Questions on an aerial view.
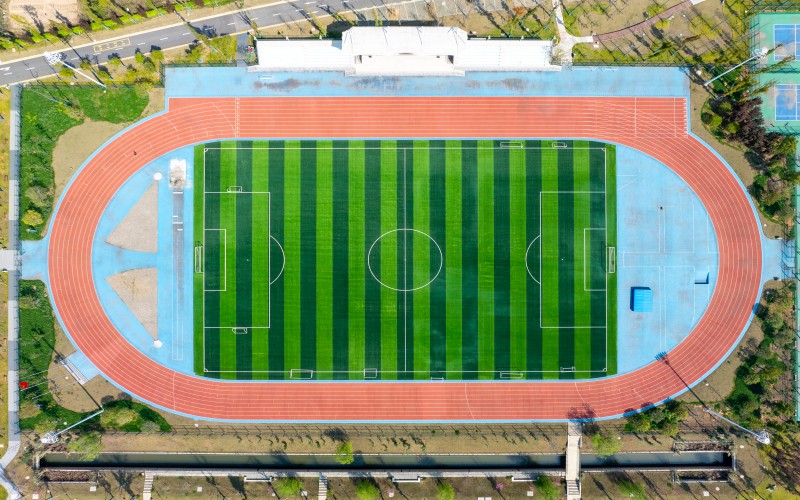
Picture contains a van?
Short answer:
No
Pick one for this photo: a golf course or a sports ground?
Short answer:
sports ground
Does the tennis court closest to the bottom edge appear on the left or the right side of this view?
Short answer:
right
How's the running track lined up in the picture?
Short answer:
horizontally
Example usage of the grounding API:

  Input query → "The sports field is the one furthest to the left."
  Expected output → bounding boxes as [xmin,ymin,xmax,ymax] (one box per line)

[93,139,400,380]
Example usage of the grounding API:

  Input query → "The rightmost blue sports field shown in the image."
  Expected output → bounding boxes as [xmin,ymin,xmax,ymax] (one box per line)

[400,139,717,380]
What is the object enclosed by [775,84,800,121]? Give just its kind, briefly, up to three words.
tennis court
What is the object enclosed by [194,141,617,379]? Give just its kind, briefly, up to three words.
sports field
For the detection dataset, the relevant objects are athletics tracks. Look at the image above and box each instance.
[44,97,766,422]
